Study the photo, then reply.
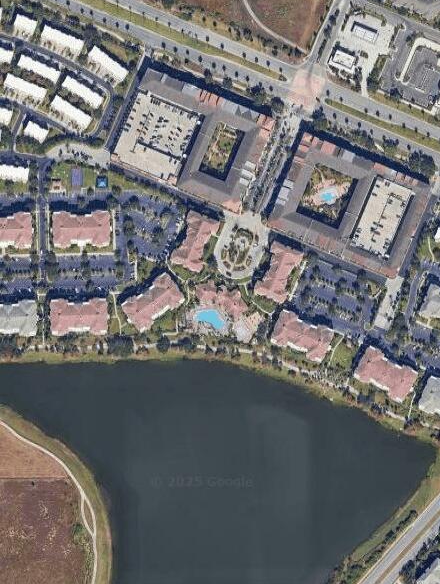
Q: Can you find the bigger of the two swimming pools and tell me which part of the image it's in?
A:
center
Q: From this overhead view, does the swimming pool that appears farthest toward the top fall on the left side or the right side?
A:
right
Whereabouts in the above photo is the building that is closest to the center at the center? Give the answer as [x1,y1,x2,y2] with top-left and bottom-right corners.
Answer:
[193,280,250,318]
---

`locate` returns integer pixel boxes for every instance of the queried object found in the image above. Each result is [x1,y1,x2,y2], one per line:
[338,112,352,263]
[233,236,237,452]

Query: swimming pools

[185,304,240,343]
[311,187,340,208]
